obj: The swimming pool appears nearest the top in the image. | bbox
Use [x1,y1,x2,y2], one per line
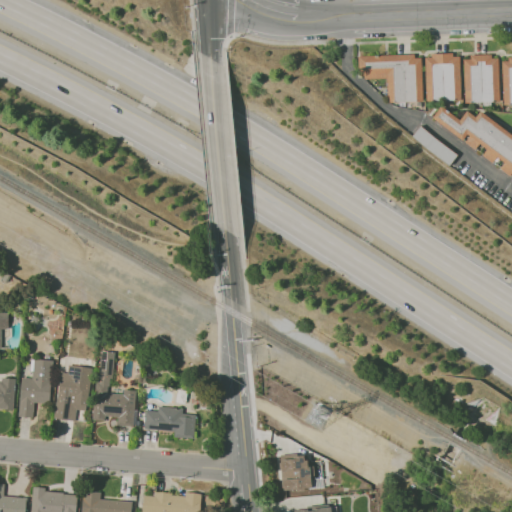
[9,322,21,349]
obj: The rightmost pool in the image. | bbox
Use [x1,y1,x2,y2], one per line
[148,388,172,403]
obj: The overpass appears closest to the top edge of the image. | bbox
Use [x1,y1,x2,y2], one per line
[194,48,246,260]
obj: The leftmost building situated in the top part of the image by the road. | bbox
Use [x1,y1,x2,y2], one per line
[359,55,424,103]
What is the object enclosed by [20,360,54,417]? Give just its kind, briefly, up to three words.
house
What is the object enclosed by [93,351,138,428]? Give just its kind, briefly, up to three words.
house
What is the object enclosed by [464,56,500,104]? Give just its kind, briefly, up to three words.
building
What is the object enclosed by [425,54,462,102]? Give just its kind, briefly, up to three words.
building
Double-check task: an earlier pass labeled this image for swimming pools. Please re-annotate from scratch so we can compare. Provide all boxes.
[9,322,21,349]
[148,388,172,403]
[123,360,133,378]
